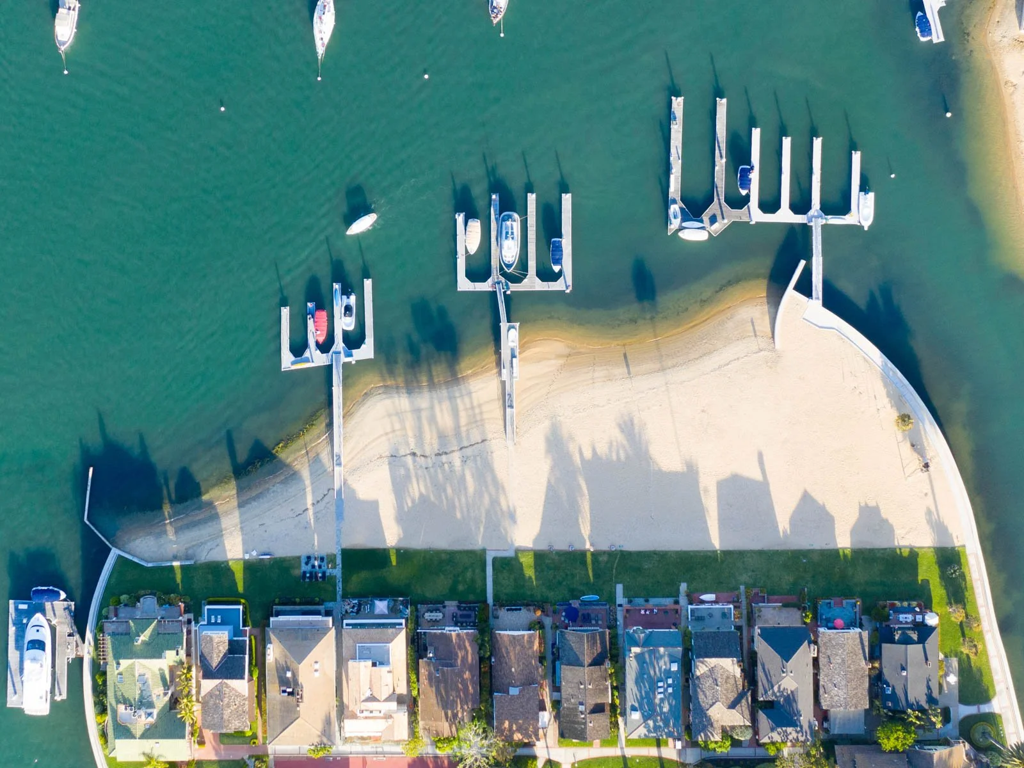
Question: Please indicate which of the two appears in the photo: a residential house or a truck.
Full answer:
Visible in the photo is a residential house.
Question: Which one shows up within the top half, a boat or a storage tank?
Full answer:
Looking within the top half, you will find a boat.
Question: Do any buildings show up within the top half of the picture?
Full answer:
No, within the top half of the picture there is no building.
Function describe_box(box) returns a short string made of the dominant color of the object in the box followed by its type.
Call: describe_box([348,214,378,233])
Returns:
white boat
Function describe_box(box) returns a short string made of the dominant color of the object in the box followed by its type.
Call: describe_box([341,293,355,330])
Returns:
white boat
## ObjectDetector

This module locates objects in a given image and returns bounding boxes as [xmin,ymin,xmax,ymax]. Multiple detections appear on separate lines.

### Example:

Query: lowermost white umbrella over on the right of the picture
[945,671,957,684]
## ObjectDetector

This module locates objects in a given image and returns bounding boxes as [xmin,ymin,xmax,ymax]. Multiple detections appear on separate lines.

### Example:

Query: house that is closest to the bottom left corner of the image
[107,616,195,762]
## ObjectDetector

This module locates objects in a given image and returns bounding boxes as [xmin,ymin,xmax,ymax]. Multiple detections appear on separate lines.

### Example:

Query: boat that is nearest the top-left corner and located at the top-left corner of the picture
[56,0,84,52]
